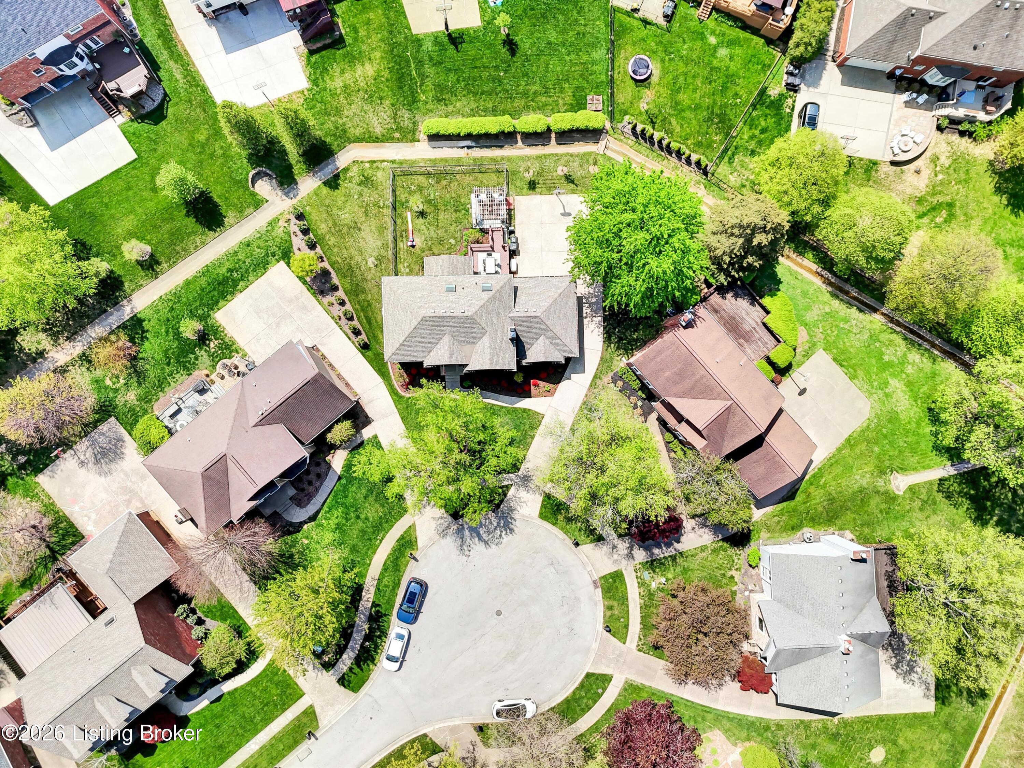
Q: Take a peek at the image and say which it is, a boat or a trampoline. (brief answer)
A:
trampoline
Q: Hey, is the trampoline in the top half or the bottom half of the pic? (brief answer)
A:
top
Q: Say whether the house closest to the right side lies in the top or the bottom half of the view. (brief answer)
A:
top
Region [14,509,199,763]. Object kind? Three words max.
house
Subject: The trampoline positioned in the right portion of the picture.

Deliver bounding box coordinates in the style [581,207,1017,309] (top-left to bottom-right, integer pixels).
[631,49,658,80]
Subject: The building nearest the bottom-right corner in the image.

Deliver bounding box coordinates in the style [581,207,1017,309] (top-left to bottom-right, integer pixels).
[749,532,890,713]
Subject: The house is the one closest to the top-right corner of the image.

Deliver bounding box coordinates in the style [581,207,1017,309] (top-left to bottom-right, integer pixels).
[833,0,1024,101]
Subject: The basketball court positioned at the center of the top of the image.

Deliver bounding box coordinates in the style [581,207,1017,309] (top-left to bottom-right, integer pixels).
[403,0,481,34]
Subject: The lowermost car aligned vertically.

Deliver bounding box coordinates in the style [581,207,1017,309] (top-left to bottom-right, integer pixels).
[382,625,410,674]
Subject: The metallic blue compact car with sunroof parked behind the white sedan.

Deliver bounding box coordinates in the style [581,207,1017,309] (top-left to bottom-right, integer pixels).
[397,578,425,627]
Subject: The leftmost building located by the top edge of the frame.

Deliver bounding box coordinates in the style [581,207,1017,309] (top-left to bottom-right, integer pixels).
[0,0,141,109]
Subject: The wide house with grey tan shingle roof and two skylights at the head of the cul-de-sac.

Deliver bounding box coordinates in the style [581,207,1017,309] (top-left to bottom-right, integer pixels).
[381,255,580,378]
